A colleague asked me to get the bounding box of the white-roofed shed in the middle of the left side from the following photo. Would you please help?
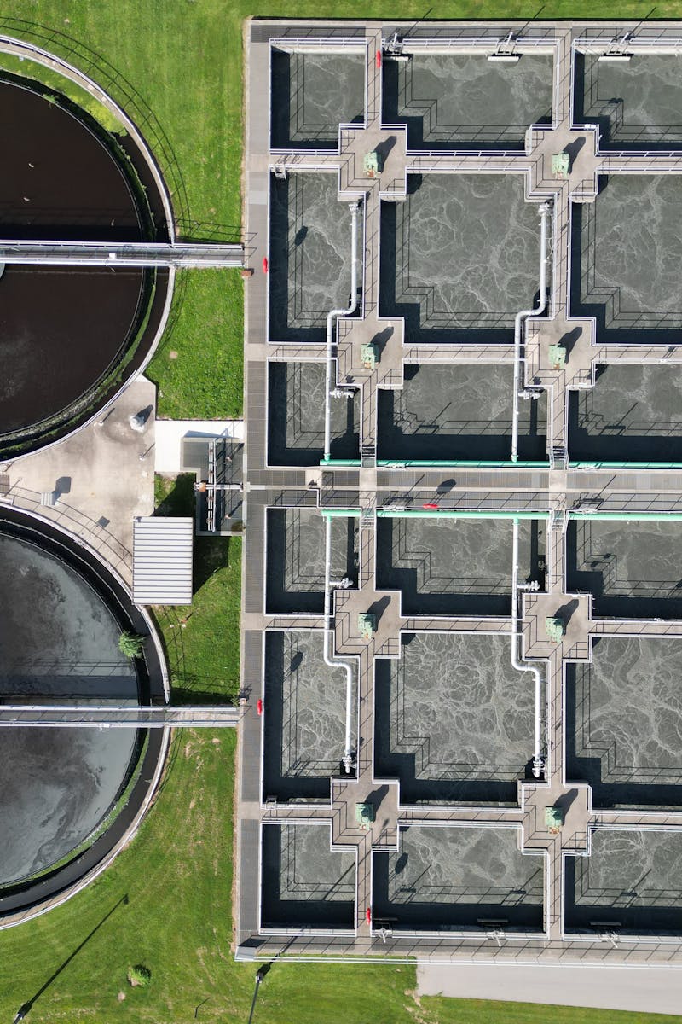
[134,516,197,605]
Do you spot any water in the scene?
Yes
